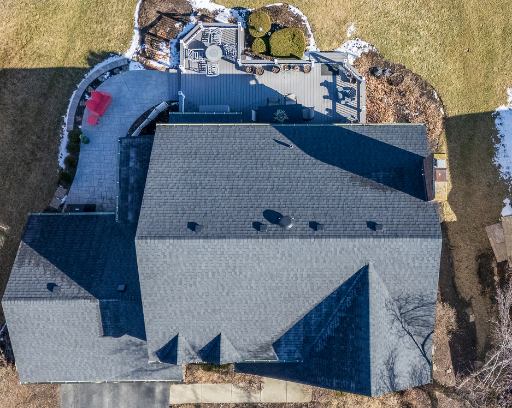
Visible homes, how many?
1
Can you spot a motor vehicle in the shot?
No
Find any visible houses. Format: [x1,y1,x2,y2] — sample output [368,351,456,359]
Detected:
[3,112,450,397]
